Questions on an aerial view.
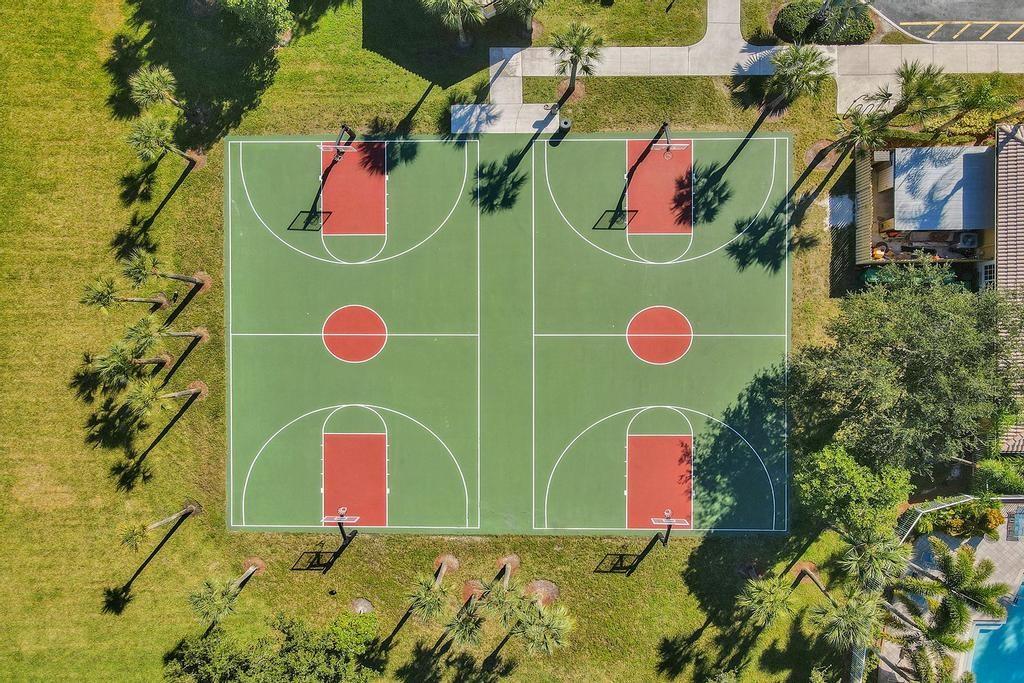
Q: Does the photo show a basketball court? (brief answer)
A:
Yes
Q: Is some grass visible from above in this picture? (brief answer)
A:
Yes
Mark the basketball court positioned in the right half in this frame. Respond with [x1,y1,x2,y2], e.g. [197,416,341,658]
[533,138,789,530]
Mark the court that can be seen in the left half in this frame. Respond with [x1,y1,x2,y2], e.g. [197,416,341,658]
[229,140,479,528]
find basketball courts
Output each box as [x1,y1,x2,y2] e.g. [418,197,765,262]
[229,140,479,528]
[533,138,789,530]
